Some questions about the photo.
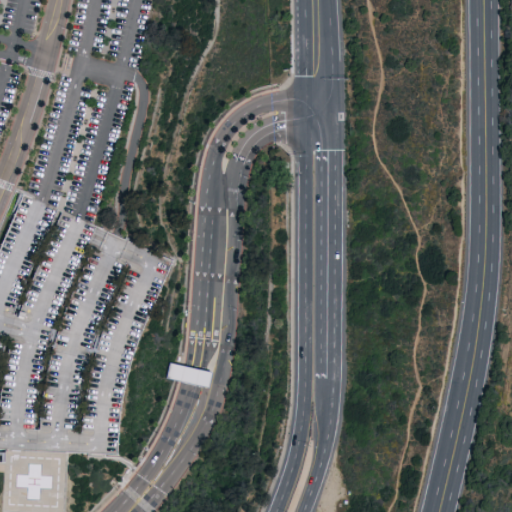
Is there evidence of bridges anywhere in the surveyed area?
No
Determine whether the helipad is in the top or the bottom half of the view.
bottom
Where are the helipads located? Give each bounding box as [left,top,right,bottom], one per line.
[4,450,68,512]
